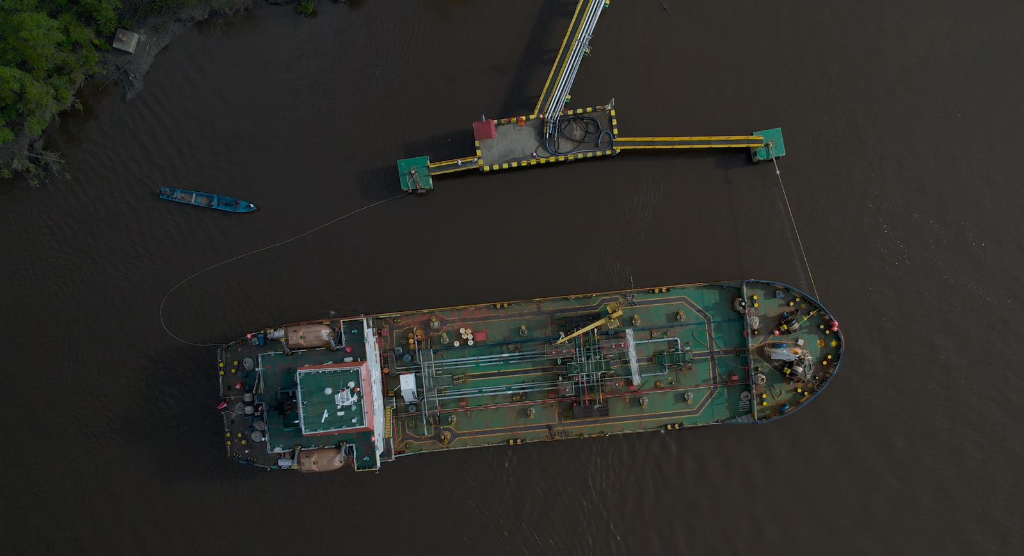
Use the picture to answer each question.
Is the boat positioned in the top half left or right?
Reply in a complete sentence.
It is on the left.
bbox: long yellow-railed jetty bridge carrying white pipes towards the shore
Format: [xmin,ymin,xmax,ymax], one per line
[537,0,610,117]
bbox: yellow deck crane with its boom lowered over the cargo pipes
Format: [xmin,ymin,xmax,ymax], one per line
[555,301,626,344]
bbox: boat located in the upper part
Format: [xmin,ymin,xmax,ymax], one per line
[153,186,259,211]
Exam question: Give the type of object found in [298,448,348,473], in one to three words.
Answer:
boat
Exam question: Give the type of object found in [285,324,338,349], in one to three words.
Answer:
boat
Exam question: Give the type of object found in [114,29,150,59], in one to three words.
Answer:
shed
